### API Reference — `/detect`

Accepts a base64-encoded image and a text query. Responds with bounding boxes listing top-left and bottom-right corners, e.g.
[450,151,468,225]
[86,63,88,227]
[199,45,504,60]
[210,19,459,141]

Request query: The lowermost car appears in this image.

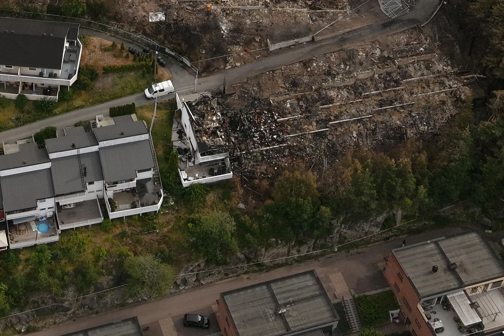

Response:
[183,313,211,330]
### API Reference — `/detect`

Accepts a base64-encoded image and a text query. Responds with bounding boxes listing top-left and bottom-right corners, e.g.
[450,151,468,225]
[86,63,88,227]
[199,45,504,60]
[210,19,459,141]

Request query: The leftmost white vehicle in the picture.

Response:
[144,77,176,96]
